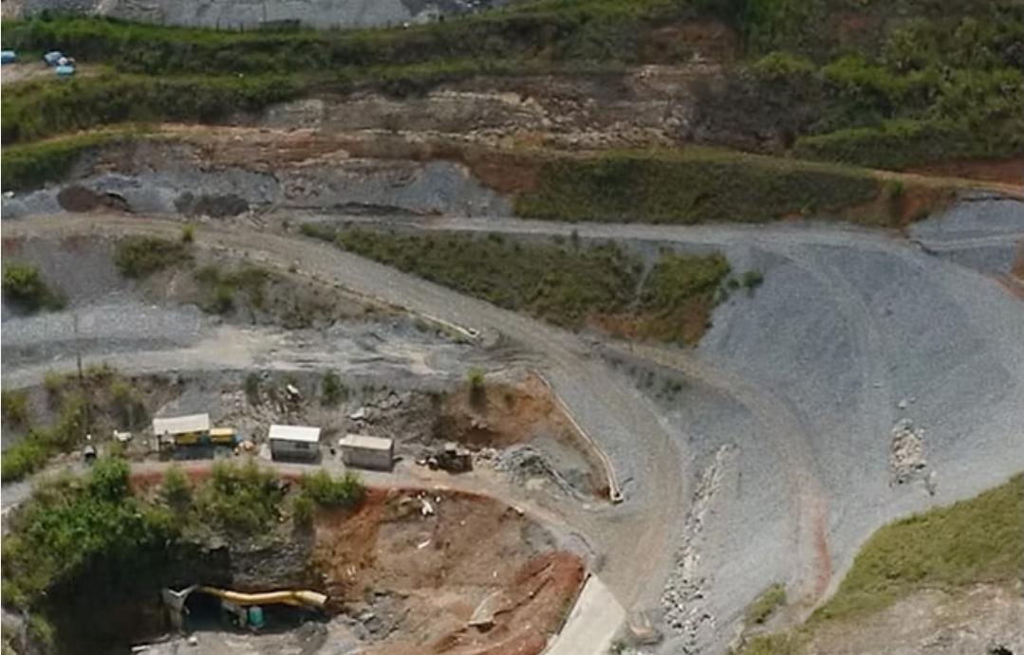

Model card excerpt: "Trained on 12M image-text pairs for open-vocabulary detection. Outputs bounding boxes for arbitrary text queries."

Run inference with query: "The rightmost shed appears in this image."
[340,432,395,470]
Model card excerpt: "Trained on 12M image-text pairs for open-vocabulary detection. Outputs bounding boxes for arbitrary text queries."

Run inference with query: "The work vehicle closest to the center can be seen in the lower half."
[412,440,471,474]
